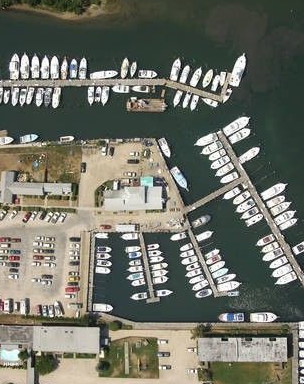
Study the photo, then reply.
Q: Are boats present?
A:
Yes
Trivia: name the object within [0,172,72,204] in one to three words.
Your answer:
building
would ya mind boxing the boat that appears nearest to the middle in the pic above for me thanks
[172,166,189,192]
